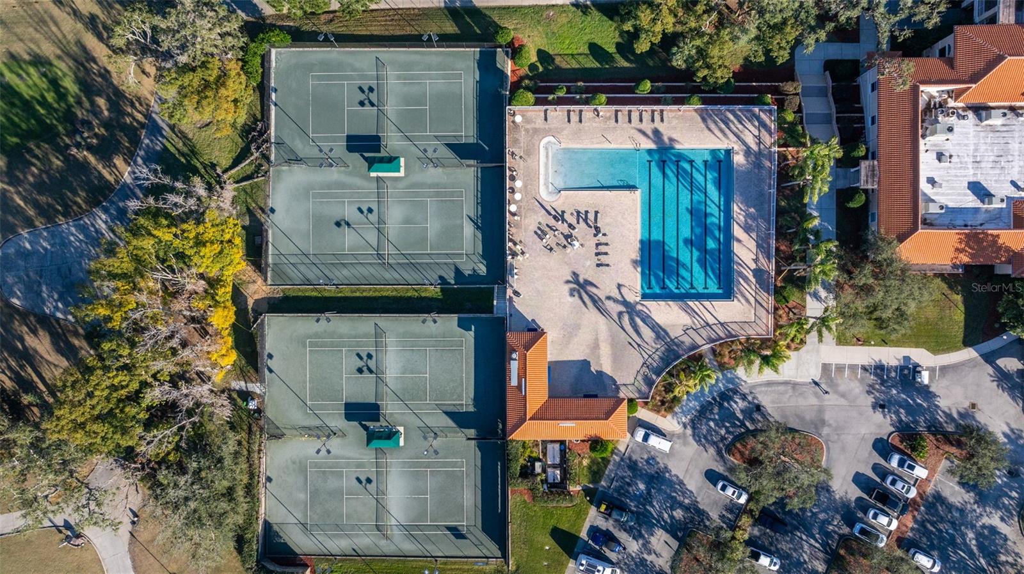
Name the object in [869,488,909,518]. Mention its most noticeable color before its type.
black truck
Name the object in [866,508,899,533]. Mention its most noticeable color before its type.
white car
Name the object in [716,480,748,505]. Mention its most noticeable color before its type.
white car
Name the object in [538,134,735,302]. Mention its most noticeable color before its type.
blue swimming pool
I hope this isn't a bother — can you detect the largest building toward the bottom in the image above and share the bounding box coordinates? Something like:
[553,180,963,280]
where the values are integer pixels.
[506,327,628,441]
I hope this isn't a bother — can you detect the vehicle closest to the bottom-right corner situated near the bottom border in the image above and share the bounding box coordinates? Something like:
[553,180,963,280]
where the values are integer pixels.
[908,549,940,573]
